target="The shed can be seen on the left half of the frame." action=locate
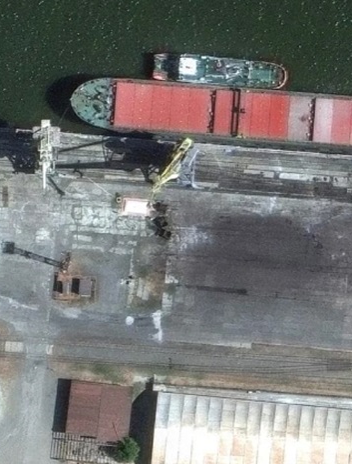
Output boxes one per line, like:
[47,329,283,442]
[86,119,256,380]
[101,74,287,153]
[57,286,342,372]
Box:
[67,380,133,441]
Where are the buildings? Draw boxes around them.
[67,380,133,441]
[150,389,352,464]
